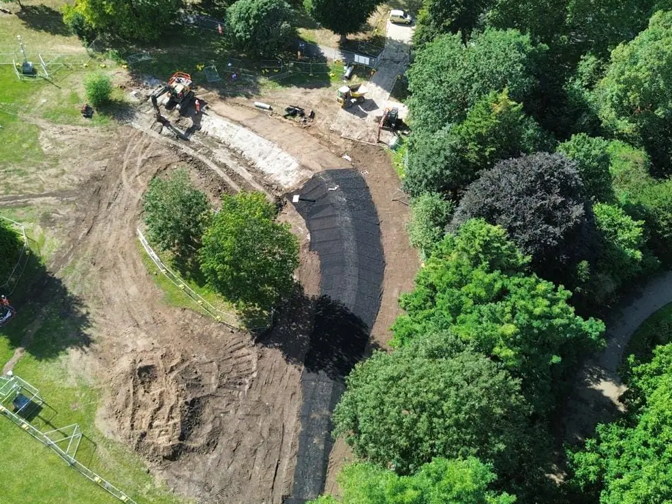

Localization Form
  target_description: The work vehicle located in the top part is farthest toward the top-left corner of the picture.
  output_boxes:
[144,75,198,124]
